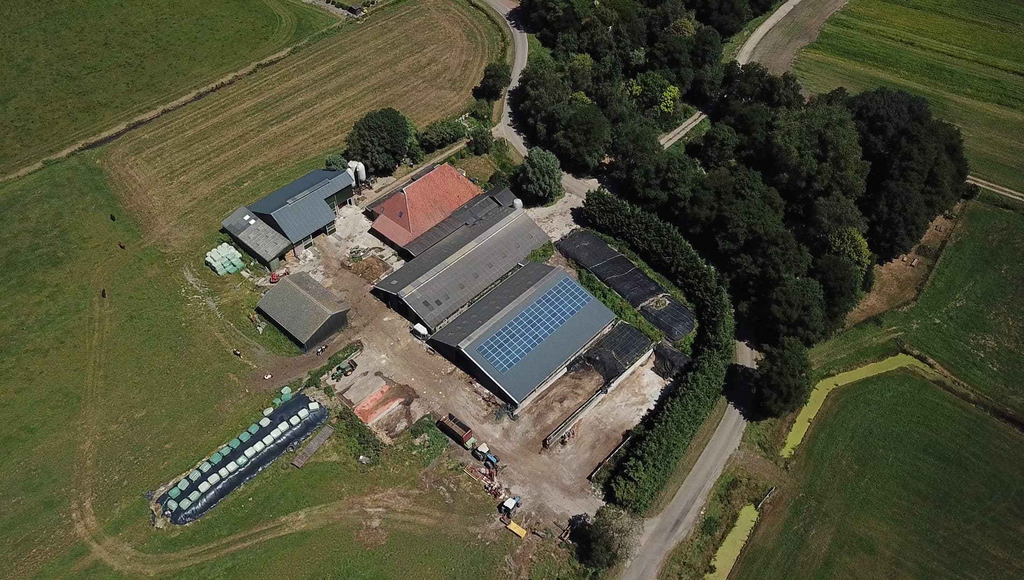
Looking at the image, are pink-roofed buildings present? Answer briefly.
Yes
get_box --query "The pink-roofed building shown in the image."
[365,161,483,254]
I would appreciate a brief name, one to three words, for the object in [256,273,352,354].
shed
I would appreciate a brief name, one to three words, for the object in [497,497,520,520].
work vehicle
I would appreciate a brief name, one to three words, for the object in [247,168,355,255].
barn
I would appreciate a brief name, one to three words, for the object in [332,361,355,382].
work vehicle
